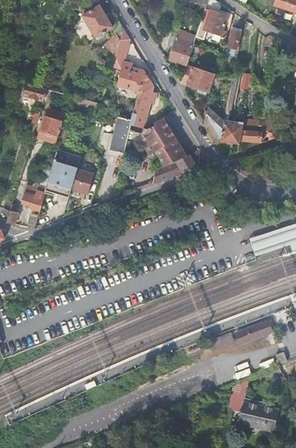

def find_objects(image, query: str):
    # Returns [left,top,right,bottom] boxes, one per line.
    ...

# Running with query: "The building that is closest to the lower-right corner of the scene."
[238,400,280,432]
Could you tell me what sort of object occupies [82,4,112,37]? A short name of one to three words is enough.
house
